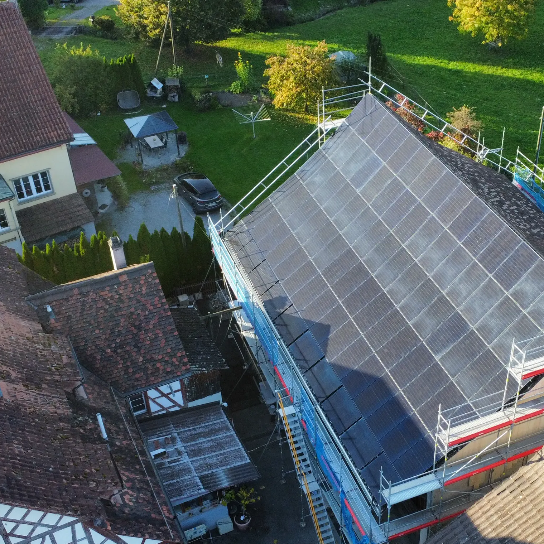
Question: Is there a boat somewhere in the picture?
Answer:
No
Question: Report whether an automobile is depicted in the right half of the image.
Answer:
No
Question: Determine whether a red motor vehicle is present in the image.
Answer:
No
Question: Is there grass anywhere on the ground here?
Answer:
Yes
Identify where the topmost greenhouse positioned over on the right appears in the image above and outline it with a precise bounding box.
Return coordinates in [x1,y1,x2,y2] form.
[330,48,359,83]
